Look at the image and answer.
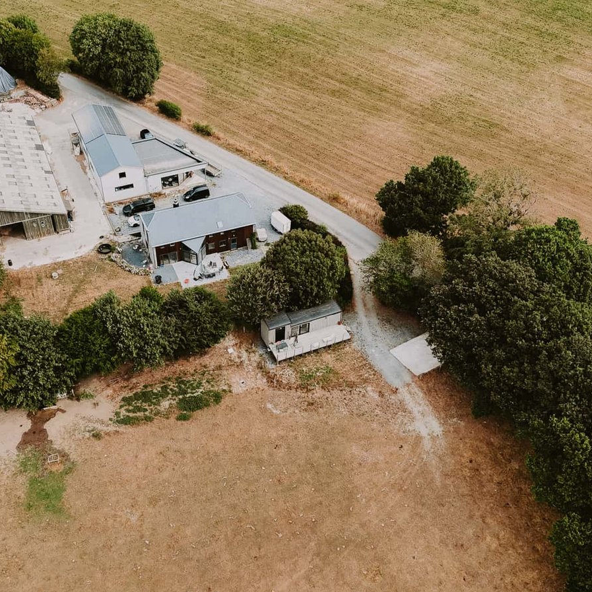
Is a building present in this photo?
Yes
